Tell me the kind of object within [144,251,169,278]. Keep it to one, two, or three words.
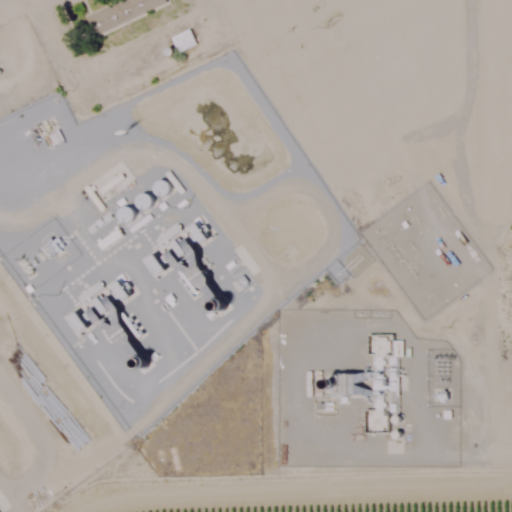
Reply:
house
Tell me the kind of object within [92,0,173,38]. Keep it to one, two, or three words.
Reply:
barn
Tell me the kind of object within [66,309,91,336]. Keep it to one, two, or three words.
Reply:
house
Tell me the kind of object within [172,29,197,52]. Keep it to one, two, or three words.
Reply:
shed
